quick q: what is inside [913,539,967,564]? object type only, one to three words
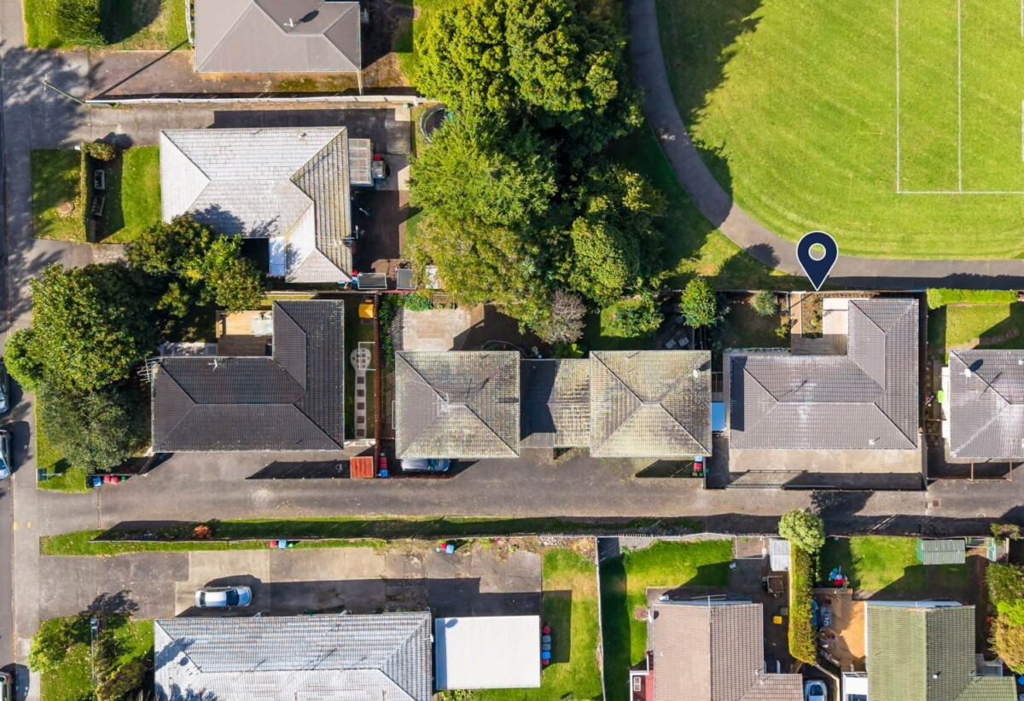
shed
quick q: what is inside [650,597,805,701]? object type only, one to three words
house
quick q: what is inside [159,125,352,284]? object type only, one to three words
house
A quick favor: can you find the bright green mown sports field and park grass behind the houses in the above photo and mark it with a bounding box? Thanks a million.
[546,0,1024,291]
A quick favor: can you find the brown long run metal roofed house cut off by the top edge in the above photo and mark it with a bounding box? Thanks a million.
[193,0,364,74]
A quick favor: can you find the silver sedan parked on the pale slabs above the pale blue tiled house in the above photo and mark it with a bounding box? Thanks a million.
[191,586,252,613]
